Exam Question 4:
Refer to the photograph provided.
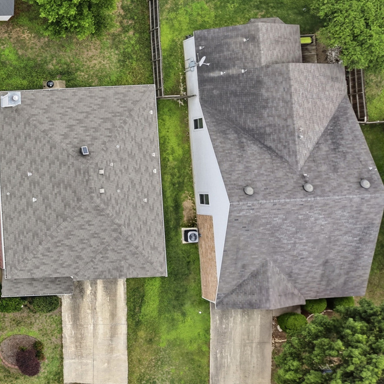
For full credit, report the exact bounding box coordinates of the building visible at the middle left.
[0,84,167,298]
